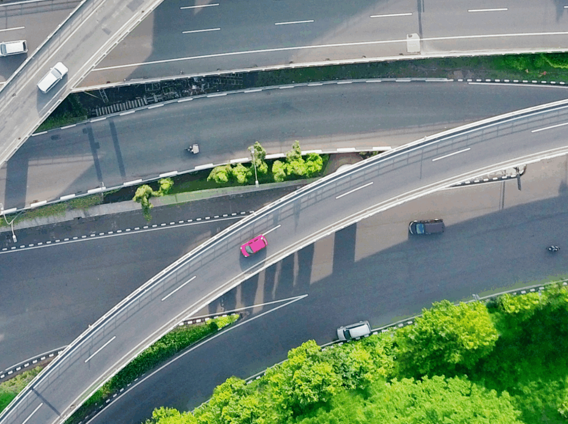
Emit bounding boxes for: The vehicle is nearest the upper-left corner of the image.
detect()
[0,38,29,56]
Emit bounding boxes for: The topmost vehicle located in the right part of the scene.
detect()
[408,219,445,235]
